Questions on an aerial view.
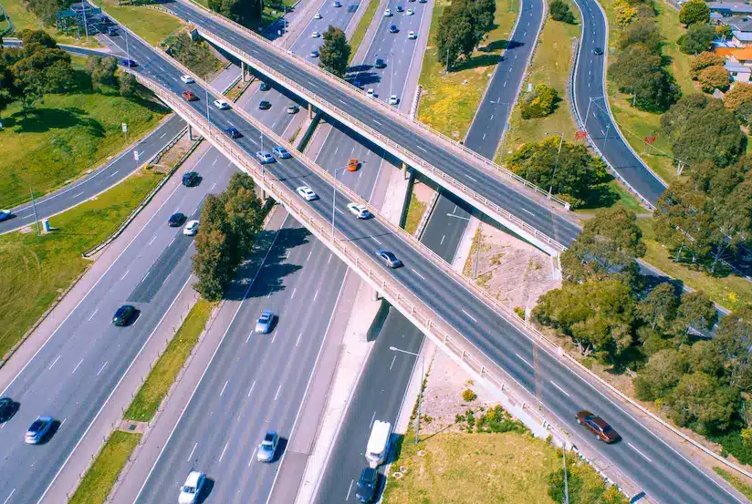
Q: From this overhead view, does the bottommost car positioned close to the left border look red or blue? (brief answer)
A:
blue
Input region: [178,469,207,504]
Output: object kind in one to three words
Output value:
car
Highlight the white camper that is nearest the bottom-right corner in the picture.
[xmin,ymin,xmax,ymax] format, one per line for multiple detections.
[364,420,393,468]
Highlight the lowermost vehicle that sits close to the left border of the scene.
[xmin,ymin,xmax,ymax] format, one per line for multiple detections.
[24,417,56,446]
